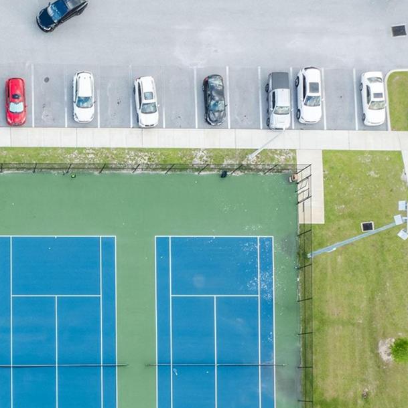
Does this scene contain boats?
No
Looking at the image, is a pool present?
No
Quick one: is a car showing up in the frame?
Yes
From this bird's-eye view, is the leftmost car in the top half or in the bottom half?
top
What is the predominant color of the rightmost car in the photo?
white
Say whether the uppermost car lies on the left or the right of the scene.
left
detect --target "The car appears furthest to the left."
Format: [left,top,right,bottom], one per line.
[4,77,28,128]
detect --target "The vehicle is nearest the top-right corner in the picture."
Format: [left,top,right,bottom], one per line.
[358,72,387,128]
